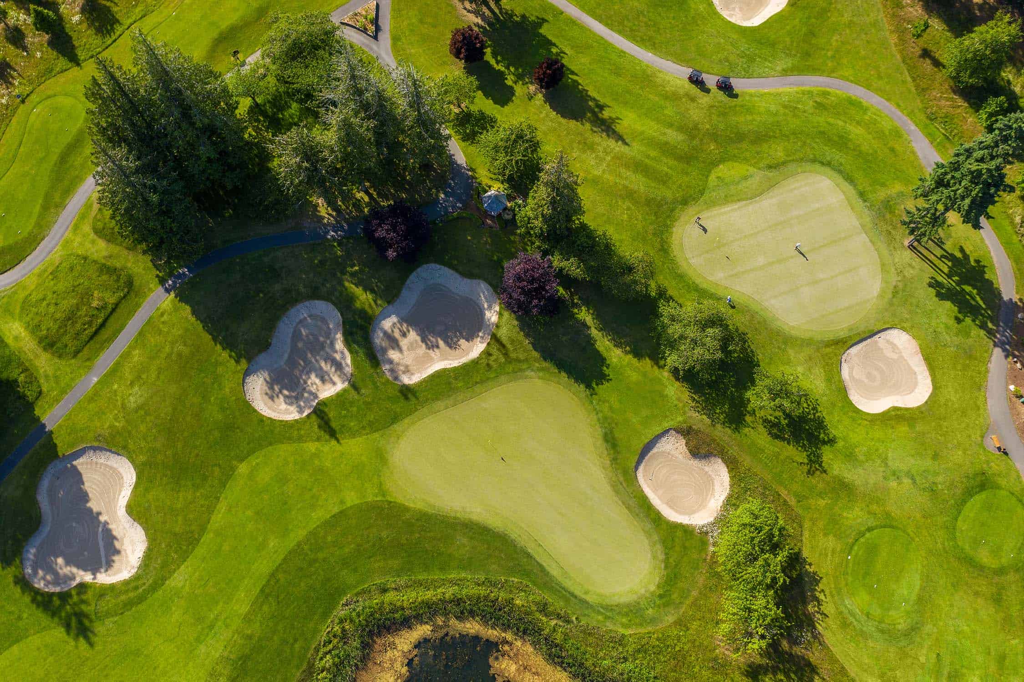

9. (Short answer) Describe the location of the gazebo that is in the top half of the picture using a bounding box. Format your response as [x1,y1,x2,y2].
[481,192,507,221]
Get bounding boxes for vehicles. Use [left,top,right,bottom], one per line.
[716,75,734,91]
[687,69,705,86]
